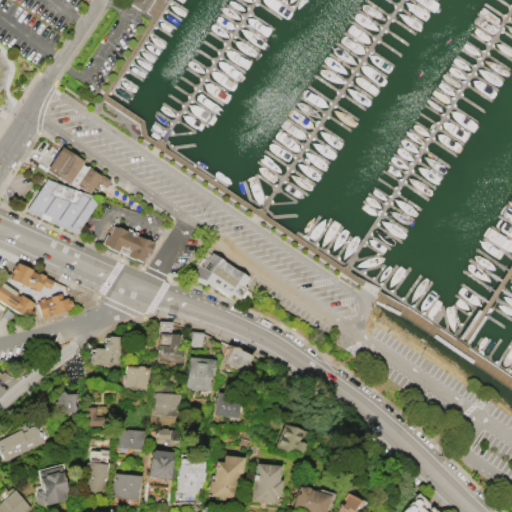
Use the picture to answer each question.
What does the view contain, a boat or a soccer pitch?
boat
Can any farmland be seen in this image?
No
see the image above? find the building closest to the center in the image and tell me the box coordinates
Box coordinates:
[198,252,250,298]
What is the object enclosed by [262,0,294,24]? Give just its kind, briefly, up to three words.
boat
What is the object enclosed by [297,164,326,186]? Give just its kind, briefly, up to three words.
boat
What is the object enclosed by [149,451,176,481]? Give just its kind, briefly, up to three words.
house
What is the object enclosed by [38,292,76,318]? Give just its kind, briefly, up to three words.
building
